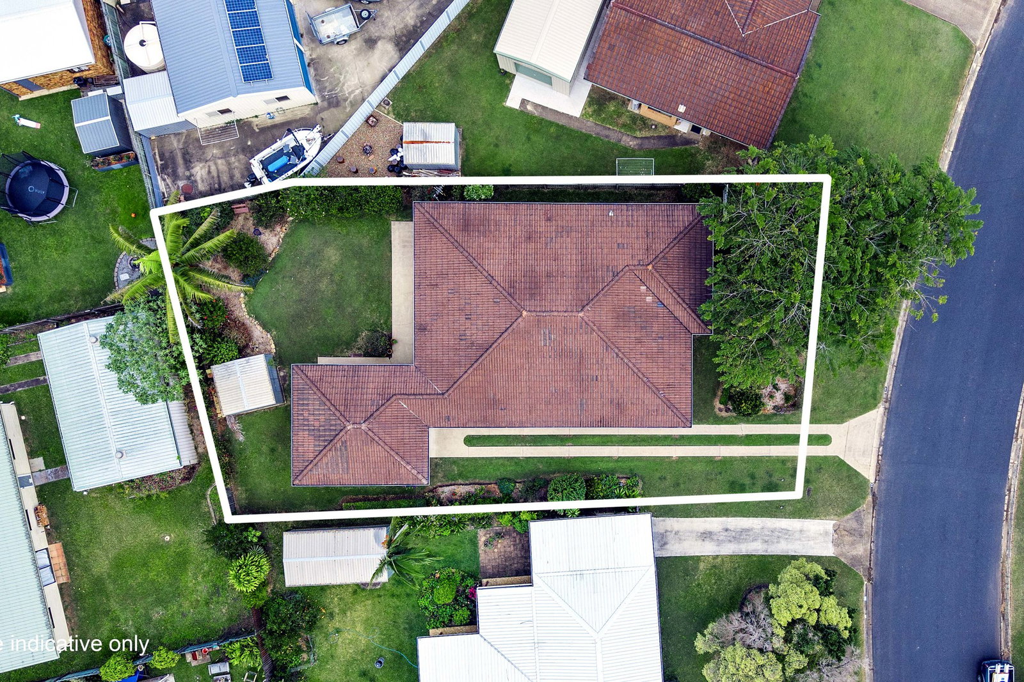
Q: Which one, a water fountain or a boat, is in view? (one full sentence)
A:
I can see a boat in this picture.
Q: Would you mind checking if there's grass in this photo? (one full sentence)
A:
Yes, grass can be seen from above here.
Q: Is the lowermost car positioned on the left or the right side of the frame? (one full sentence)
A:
The lowermost car sits on the right side.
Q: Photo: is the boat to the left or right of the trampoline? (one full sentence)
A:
The boat can be seen on the right of the trampoline.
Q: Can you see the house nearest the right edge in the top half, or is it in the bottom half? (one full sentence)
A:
It is in the top half that the house nearest the right edge appears.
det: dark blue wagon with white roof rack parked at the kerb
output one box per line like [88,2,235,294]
[973,659,1016,682]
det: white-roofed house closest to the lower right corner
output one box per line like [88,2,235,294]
[415,509,665,682]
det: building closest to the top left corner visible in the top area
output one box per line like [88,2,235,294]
[0,0,115,96]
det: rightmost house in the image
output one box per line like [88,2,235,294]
[581,0,820,149]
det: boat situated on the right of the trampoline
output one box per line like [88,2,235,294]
[242,126,328,185]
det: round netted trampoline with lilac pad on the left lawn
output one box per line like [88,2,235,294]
[0,150,85,232]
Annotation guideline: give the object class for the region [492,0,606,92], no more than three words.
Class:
shed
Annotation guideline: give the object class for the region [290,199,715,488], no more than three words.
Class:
house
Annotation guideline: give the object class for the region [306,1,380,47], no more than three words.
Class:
trailer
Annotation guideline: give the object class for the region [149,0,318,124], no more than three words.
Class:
building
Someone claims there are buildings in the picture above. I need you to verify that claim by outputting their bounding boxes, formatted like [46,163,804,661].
[492,0,606,92]
[36,311,199,491]
[0,0,115,96]
[0,401,70,675]
[581,0,820,149]
[403,122,458,169]
[415,509,665,682]
[211,355,288,418]
[283,523,393,593]
[290,199,715,488]
[149,0,318,124]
